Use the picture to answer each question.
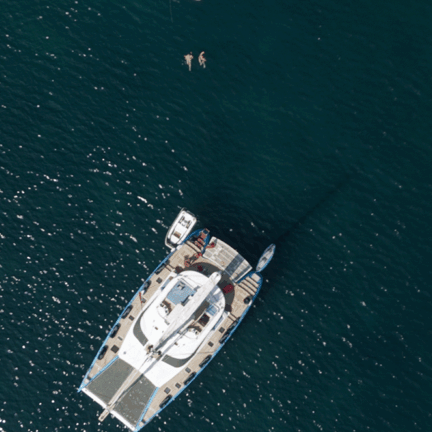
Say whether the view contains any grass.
No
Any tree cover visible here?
No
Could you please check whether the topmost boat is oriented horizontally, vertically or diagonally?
diagonally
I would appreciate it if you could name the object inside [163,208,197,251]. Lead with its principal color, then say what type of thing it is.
white boat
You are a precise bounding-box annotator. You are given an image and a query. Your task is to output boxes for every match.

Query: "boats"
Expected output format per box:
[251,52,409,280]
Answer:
[77,229,260,432]
[255,243,275,274]
[163,208,197,251]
